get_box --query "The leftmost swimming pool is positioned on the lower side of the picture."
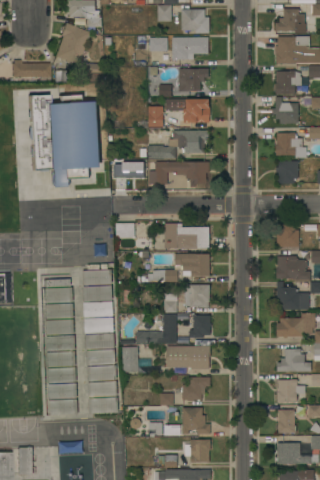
[124,316,140,338]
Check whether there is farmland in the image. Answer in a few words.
No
